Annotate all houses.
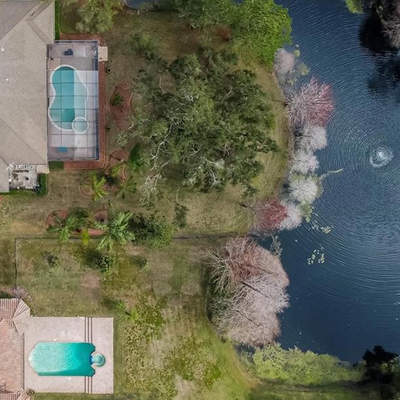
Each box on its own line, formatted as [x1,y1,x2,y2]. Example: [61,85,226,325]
[0,0,55,193]
[0,298,31,400]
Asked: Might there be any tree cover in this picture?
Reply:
Yes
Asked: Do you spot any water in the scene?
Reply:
Yes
